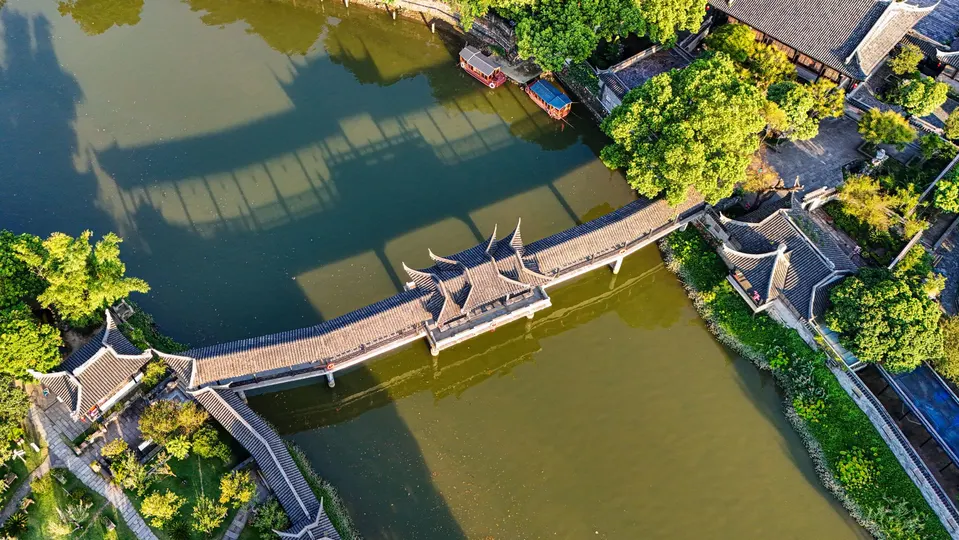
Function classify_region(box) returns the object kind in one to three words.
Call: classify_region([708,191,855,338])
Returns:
building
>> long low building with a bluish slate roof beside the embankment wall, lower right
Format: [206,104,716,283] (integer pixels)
[869,341,959,490]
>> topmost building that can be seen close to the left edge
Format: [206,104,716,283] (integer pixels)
[23,313,164,431]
